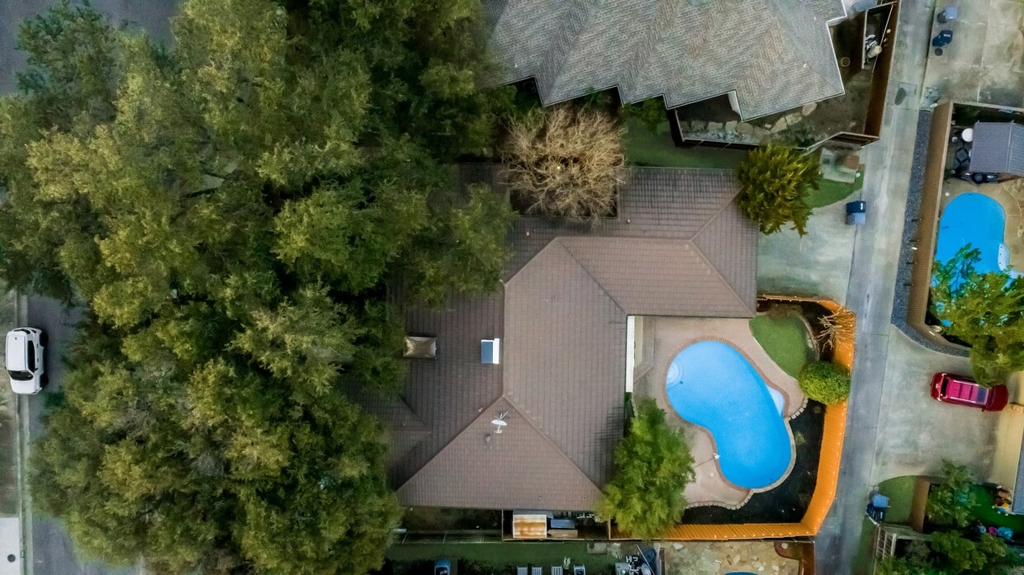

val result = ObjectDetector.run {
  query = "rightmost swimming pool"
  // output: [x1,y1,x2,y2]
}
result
[933,189,1024,330]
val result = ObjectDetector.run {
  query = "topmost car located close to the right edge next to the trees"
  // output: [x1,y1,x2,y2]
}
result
[925,373,1008,413]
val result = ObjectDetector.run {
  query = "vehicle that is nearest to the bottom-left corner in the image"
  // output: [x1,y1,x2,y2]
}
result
[5,327,49,395]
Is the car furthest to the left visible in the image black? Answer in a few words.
No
